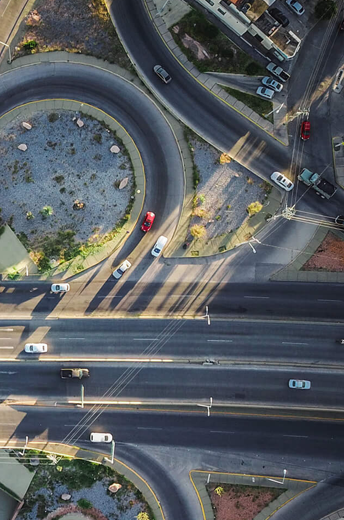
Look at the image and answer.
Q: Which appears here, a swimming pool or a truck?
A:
truck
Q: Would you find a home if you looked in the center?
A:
No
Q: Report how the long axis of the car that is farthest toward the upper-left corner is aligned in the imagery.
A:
at an angle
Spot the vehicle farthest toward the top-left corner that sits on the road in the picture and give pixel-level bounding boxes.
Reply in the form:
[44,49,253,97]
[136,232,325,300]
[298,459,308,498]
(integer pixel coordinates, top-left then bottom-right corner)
[152,63,173,84]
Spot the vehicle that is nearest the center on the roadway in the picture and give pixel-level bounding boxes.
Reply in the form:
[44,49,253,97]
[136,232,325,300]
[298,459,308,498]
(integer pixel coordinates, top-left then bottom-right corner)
[150,233,167,258]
